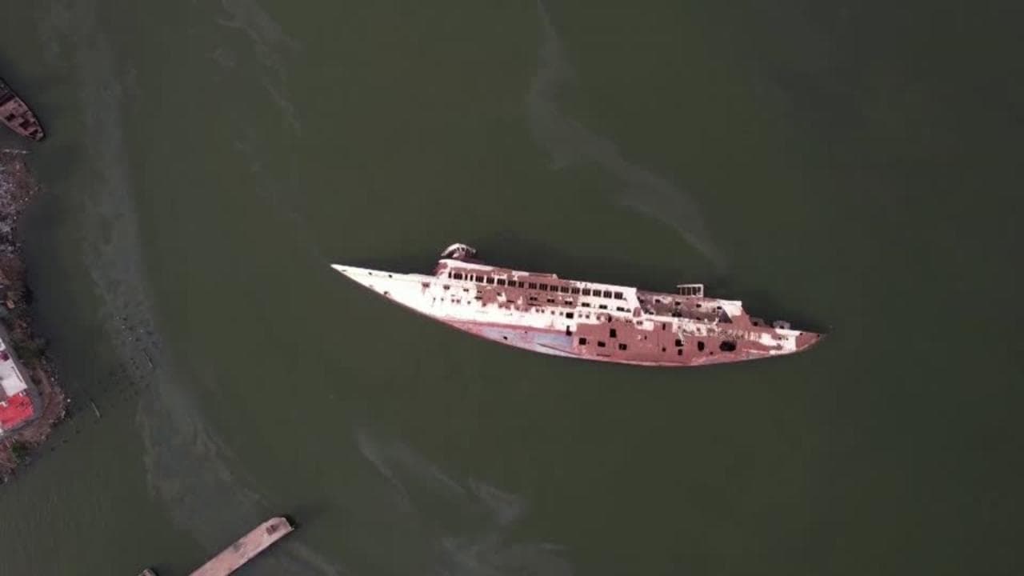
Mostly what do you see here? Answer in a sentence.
What you mostly see from above here is water.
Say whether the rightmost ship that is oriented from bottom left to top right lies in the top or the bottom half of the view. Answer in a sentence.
The rightmost ship that is oriented from bottom left to top right is in the bottom half of the image.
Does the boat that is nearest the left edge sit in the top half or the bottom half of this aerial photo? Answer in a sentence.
The boat that is nearest the left edge is in the top half of the image.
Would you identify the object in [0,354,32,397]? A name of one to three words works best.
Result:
house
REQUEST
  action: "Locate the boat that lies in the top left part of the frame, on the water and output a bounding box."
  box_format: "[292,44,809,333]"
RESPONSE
[0,76,47,140]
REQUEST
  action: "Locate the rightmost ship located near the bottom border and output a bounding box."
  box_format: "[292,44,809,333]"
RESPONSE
[190,517,295,576]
